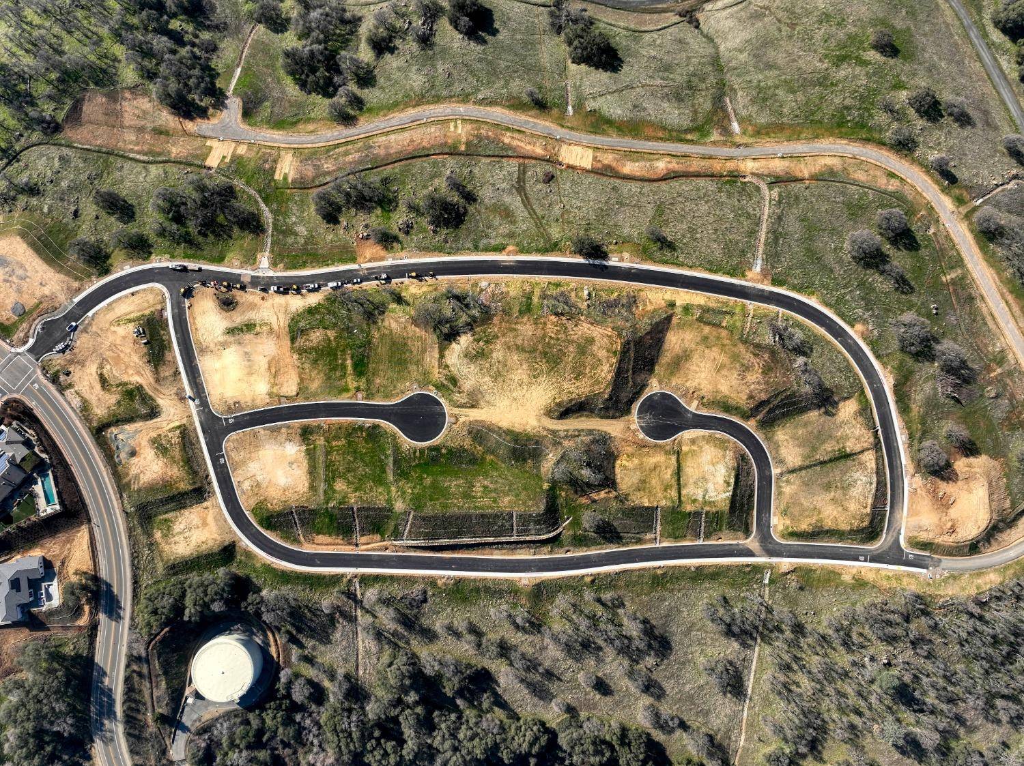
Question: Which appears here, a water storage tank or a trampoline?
water storage tank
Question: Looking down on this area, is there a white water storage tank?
Yes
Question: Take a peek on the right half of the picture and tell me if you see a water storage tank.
No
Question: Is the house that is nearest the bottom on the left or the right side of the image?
left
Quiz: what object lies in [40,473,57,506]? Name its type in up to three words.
swimming pool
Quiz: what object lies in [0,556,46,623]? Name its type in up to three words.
house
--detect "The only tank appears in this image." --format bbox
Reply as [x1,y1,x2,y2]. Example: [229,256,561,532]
[191,632,261,703]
